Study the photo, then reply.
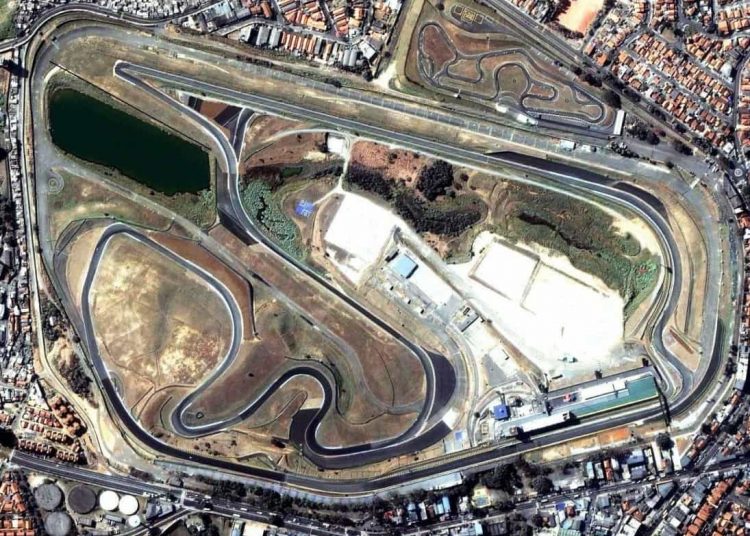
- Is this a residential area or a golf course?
residential area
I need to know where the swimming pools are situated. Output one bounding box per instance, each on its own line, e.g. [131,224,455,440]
[472,487,491,507]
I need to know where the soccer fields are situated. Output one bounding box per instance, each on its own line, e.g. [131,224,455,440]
[558,0,605,34]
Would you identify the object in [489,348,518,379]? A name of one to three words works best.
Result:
building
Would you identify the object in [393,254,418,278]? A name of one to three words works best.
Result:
building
